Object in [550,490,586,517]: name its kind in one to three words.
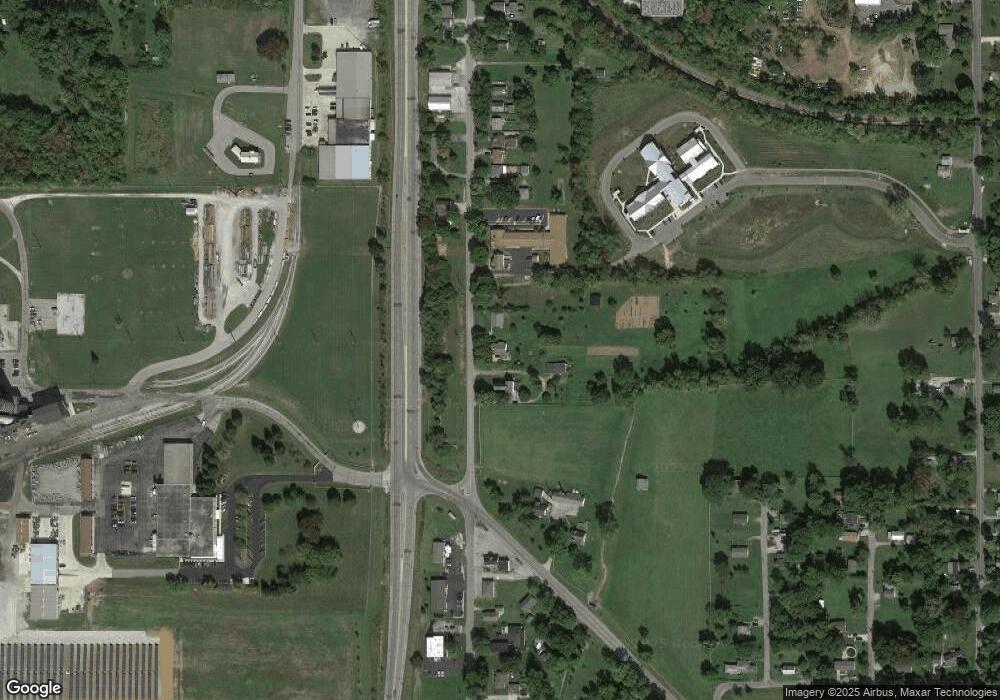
barn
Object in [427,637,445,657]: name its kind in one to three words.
building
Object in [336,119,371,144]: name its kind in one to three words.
building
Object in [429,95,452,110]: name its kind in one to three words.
barn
